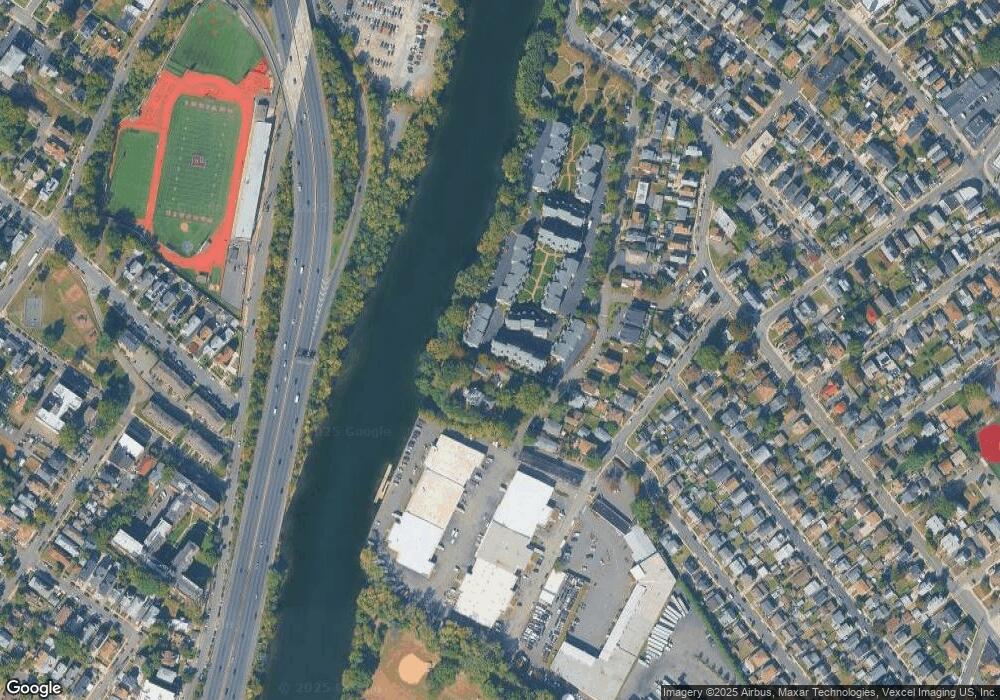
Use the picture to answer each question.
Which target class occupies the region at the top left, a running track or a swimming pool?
running track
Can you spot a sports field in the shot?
Yes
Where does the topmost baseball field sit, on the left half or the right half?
left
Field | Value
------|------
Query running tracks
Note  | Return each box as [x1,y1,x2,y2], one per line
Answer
[119,62,271,272]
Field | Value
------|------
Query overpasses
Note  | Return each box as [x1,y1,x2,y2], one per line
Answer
[282,0,312,127]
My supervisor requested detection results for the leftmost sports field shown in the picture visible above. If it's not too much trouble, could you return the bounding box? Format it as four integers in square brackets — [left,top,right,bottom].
[108,129,157,219]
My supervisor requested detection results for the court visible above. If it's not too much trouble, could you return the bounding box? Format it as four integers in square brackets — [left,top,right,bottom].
[24,297,42,328]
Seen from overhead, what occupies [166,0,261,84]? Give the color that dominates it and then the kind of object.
green baseball field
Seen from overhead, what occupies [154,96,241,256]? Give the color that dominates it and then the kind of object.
green sports field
